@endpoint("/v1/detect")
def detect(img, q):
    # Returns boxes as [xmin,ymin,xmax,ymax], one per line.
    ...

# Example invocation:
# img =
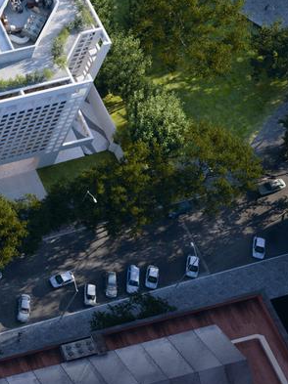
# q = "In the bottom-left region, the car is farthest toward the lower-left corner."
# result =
[15,293,33,323]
